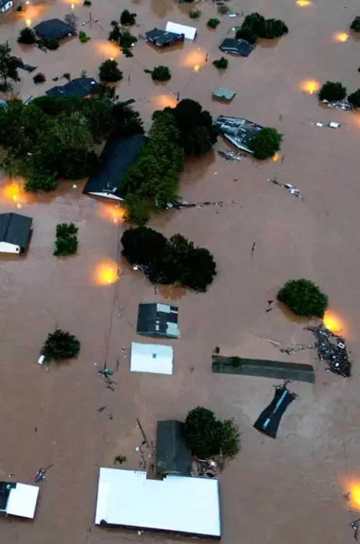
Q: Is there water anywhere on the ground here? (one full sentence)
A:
Yes, there is water in the image.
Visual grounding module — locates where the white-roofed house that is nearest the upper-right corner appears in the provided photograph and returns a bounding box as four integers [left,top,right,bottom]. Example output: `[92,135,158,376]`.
[165,22,197,44]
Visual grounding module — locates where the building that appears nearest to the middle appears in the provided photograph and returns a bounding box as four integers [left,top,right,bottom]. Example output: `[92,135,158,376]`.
[137,301,181,340]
